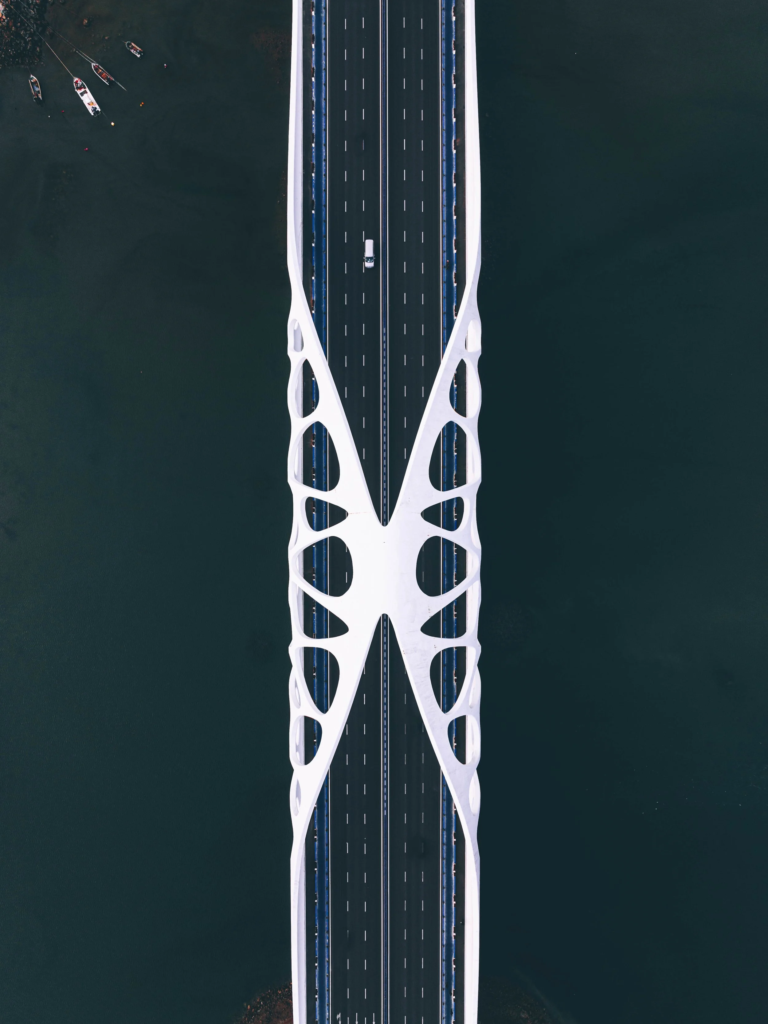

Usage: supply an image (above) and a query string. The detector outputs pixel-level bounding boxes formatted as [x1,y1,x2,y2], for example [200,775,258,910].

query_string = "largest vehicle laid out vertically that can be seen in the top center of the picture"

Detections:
[363,239,376,268]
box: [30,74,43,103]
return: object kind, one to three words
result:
boat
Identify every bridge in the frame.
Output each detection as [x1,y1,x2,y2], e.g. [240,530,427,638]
[287,0,482,1024]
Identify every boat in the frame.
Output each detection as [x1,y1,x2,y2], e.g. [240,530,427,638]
[92,63,114,86]
[72,76,102,120]
[30,74,43,103]
[125,40,144,61]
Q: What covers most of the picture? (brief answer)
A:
water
